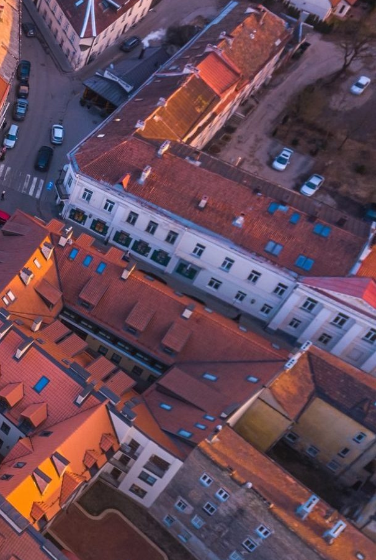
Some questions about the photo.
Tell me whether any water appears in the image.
No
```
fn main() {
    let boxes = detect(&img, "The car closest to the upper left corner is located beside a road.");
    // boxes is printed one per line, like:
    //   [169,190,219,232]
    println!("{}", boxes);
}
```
[21,21,36,38]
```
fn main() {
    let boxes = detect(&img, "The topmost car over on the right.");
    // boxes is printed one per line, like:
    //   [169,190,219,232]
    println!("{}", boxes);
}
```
[350,76,369,94]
